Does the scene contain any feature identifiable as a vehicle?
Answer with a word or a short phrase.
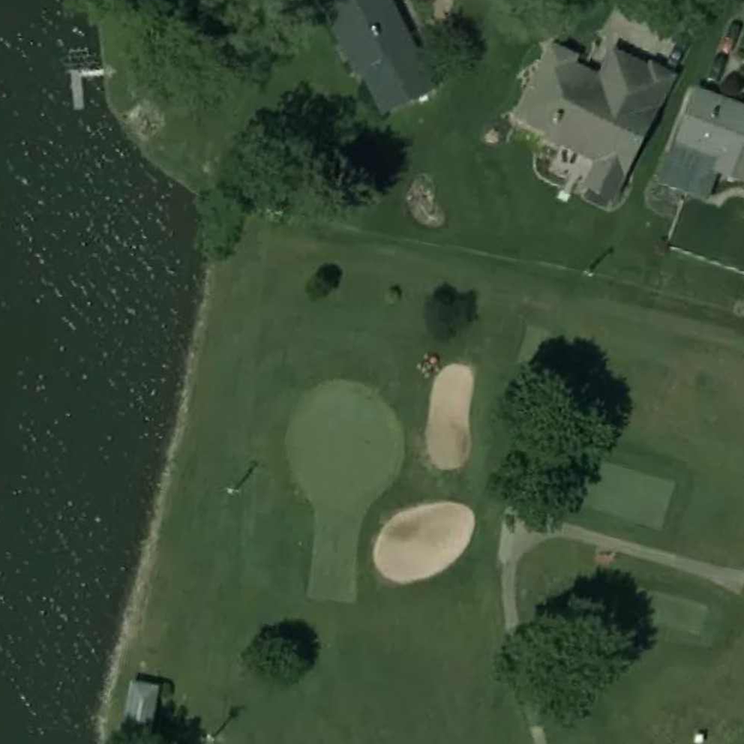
Yes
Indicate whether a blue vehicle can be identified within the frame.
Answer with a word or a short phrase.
No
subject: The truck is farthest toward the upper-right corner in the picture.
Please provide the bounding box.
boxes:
[719,16,744,54]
